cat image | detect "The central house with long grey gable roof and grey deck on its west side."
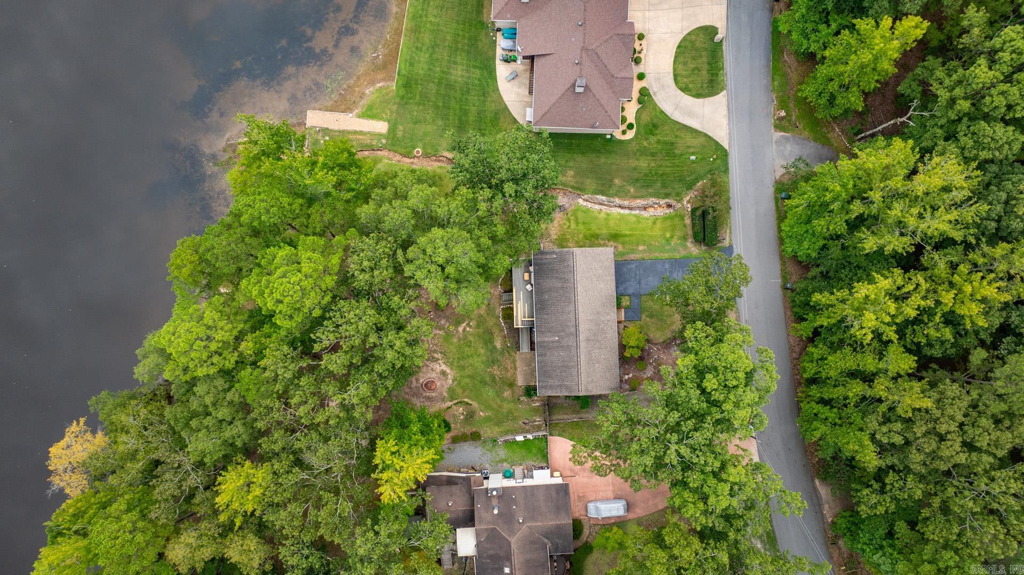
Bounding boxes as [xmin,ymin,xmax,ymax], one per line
[517,247,620,396]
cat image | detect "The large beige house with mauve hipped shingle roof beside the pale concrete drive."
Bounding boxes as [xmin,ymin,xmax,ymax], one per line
[492,0,635,135]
